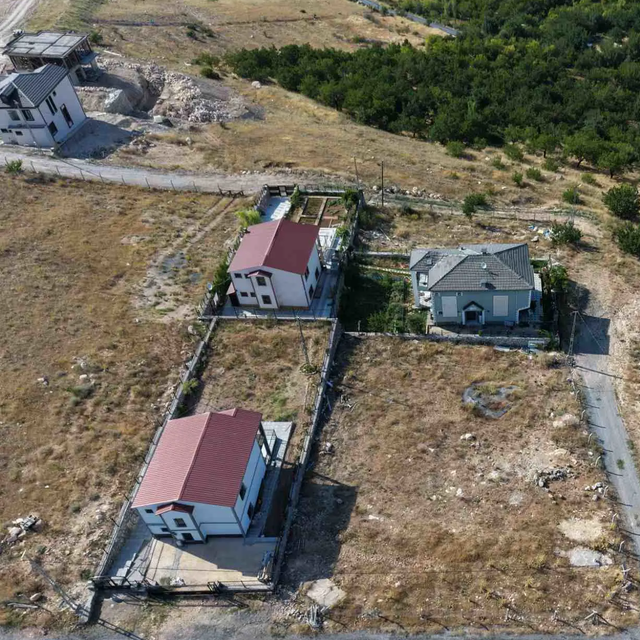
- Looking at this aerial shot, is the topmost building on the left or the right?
left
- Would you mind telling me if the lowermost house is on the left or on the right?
left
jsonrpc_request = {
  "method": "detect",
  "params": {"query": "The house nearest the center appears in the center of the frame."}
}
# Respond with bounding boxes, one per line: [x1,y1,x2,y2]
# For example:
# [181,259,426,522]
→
[225,217,324,310]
